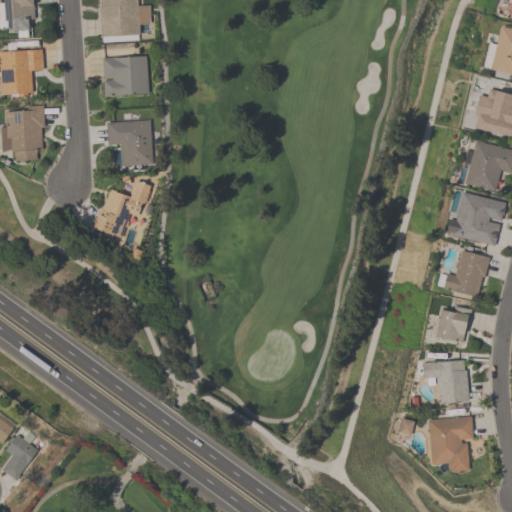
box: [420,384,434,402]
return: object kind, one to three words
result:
swimming pool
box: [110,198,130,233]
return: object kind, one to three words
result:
solar array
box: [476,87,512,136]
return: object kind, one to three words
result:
house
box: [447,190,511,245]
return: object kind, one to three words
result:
house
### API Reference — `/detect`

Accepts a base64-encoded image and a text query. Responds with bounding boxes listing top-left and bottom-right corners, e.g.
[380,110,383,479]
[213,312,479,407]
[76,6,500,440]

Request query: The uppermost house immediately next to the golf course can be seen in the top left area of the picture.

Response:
[102,0,151,42]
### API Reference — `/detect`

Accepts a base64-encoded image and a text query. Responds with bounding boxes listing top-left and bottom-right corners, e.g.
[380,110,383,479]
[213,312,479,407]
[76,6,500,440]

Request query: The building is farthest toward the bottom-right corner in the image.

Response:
[429,416,475,472]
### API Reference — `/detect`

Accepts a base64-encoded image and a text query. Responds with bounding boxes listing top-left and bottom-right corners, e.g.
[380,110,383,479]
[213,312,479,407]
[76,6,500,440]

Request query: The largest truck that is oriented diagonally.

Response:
[16,344,57,376]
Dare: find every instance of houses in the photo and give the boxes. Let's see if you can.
[0,50,44,98]
[93,174,153,237]
[102,0,151,42]
[0,0,35,38]
[424,362,470,404]
[492,26,512,79]
[2,105,45,162]
[443,251,492,300]
[103,56,149,97]
[465,140,512,192]
[447,190,511,245]
[108,120,154,167]
[436,304,472,342]
[0,416,16,446]
[476,87,512,136]
[429,416,475,472]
